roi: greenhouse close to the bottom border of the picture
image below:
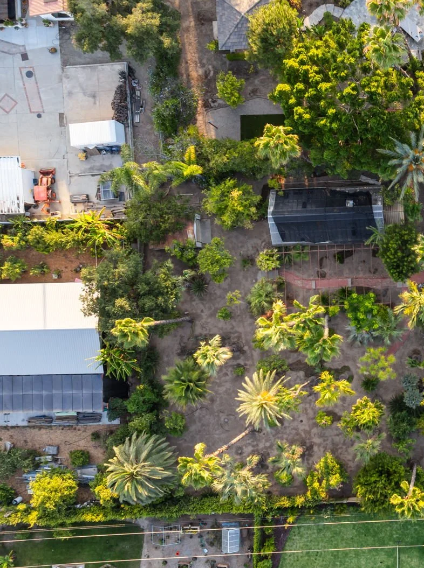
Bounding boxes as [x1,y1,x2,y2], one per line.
[222,526,242,554]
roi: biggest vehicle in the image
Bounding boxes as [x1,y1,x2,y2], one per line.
[31,169,57,219]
